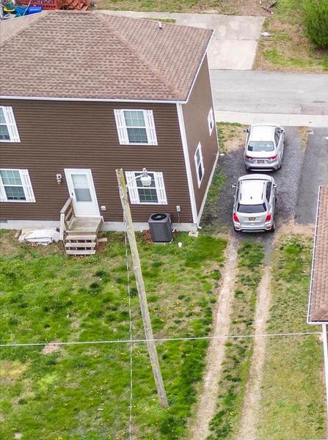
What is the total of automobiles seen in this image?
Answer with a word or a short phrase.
2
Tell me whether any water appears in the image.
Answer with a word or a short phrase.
No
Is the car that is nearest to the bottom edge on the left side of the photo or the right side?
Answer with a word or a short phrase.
right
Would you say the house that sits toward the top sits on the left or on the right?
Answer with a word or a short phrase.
left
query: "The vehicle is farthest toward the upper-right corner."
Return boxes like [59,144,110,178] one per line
[243,118,291,165]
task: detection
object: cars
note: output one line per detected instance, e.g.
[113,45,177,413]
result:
[233,168,283,224]
[243,118,291,165]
